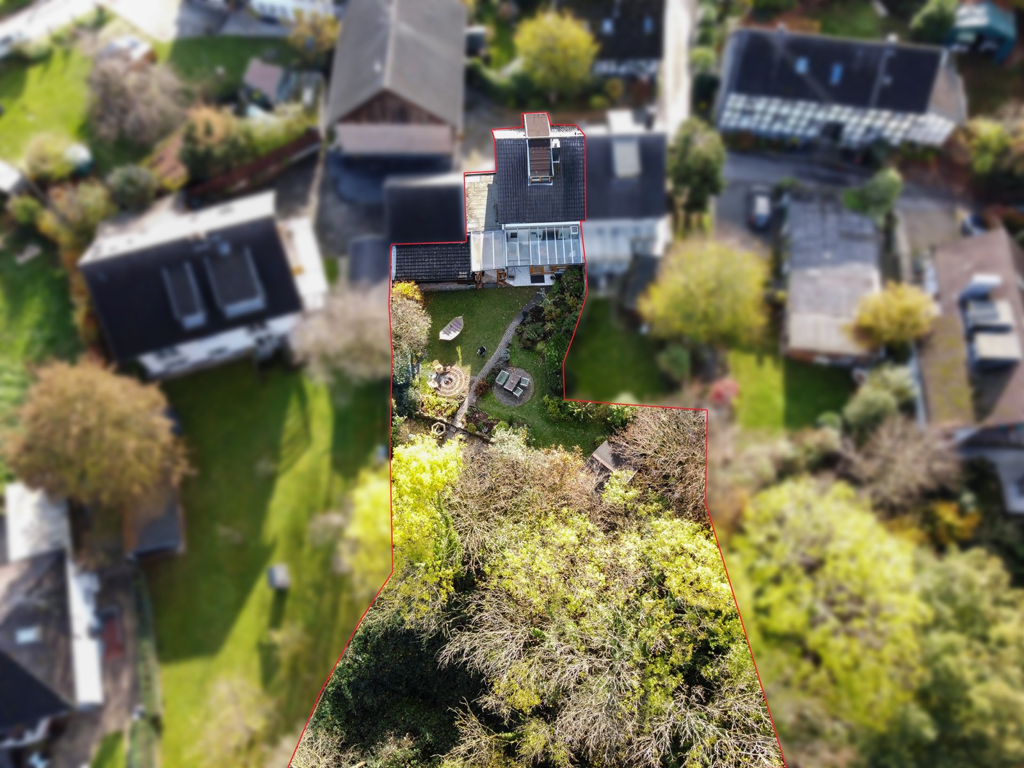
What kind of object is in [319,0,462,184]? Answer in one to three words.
barn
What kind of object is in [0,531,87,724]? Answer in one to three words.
house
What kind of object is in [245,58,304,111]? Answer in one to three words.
shed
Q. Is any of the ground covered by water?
No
